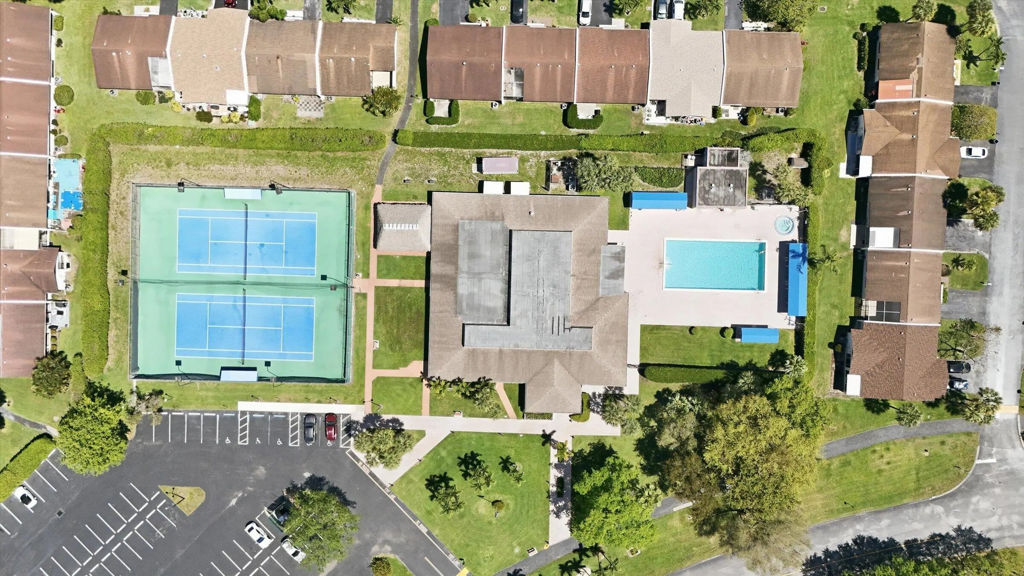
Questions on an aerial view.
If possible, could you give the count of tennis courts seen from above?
2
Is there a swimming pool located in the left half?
No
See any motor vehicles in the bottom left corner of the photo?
Yes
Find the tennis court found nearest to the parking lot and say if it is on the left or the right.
left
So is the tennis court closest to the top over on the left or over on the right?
left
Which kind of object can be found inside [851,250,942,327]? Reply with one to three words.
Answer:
house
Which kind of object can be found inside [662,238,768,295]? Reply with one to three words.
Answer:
swimming pool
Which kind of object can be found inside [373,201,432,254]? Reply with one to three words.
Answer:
shed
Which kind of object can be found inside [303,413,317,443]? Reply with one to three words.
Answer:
car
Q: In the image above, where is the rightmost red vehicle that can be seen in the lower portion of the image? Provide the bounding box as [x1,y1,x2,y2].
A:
[323,412,338,442]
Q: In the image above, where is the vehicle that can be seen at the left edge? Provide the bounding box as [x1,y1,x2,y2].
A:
[14,484,40,510]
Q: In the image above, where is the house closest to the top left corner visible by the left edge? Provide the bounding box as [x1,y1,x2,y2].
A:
[0,2,65,90]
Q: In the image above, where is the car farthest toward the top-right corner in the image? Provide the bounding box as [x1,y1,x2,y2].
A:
[960,145,988,159]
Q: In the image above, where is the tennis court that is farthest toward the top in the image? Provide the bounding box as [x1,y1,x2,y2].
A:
[141,186,353,287]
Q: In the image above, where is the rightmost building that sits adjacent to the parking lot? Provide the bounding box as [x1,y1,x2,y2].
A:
[428,192,628,413]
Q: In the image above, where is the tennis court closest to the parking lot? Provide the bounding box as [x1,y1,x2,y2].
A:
[139,282,353,380]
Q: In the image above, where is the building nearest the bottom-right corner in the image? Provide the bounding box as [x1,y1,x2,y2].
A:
[839,323,957,400]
